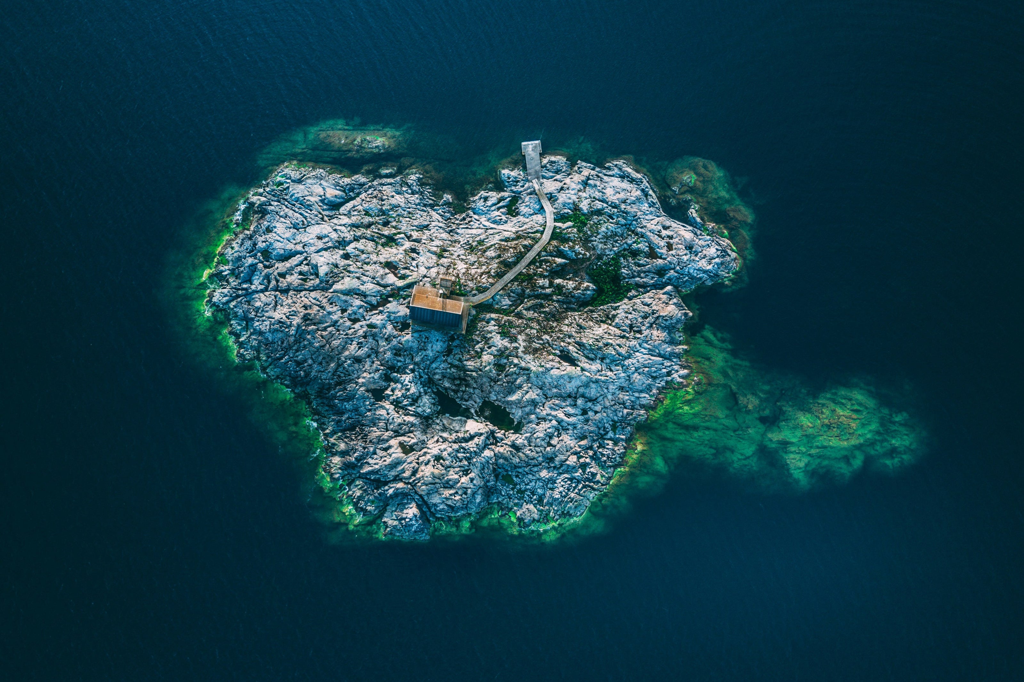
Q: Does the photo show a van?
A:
No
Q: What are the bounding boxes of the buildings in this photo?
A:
[409,285,464,328]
